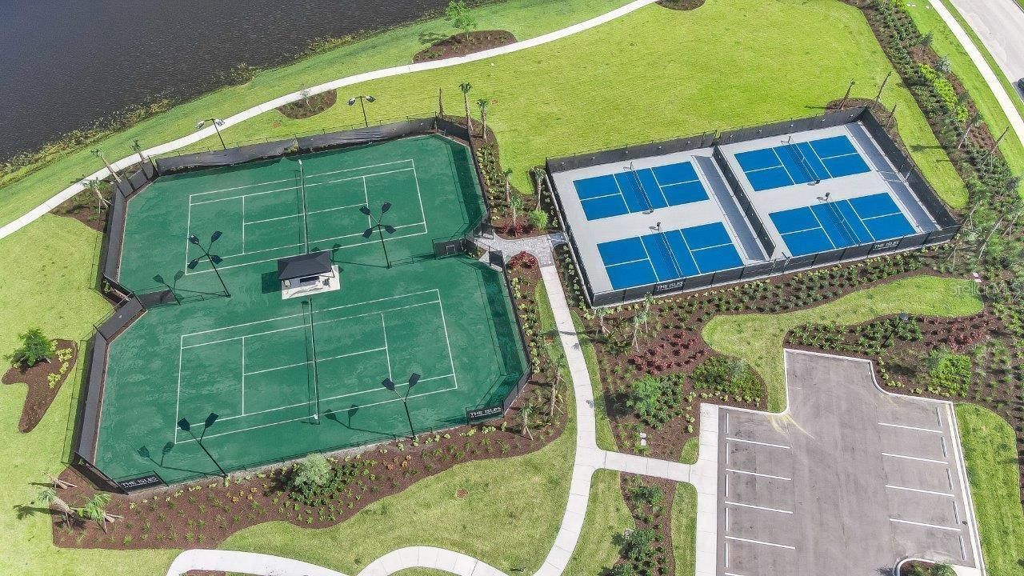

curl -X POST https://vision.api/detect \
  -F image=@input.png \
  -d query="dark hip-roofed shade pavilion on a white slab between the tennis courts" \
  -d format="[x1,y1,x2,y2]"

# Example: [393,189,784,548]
[277,250,340,299]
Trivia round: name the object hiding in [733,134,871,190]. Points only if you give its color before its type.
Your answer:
blue sports court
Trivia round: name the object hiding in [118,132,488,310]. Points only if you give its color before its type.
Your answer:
green tennis court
